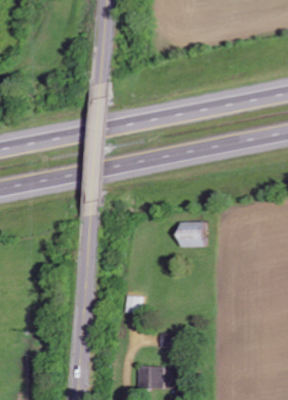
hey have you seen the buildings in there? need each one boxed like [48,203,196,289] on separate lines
[138,365,170,391]
[126,294,147,315]
[160,332,176,349]
[176,221,208,248]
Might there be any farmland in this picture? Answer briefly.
Yes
